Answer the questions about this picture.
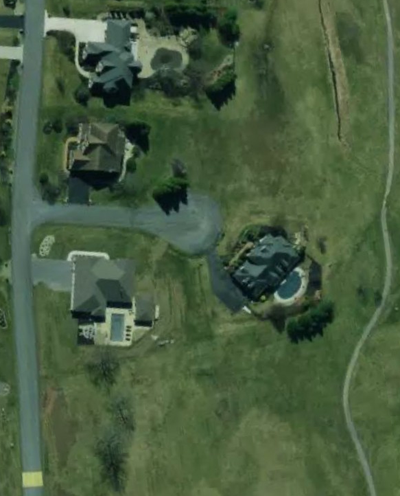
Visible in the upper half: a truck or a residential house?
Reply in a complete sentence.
You can see a residential house in the upper half.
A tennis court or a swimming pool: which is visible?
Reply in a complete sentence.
I can see a swimming pool in this picture.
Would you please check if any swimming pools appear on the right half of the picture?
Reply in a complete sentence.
Yes, you'll find a swimming pool on the right half of the picture.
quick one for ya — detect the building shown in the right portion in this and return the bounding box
[227,223,300,302]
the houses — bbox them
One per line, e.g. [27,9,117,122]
[69,121,125,173]
[85,18,145,96]
[71,253,135,311]
[227,223,300,302]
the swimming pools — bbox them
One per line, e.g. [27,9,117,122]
[276,269,302,301]
[150,46,183,70]
[109,315,125,341]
